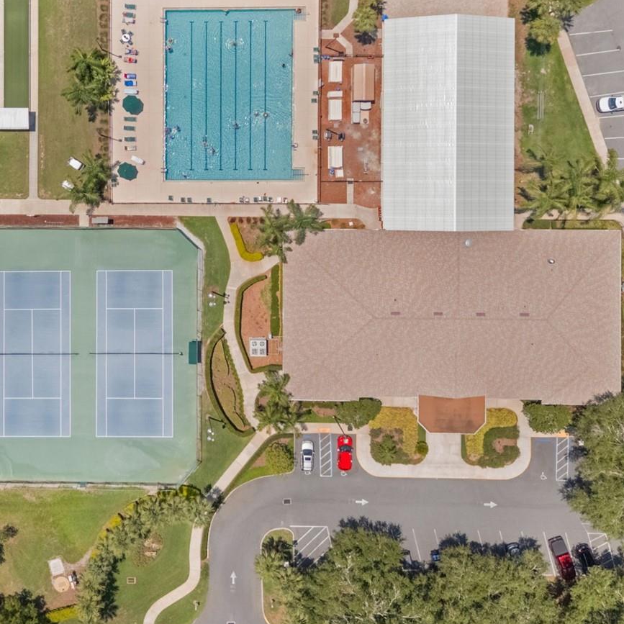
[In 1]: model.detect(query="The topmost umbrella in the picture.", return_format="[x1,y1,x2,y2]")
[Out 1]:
[123,94,144,116]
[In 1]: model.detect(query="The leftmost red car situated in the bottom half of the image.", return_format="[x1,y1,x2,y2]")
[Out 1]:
[337,437,354,472]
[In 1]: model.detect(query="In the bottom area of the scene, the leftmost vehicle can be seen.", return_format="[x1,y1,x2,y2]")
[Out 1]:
[301,440,317,474]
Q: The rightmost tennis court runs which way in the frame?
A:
from top to bottom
